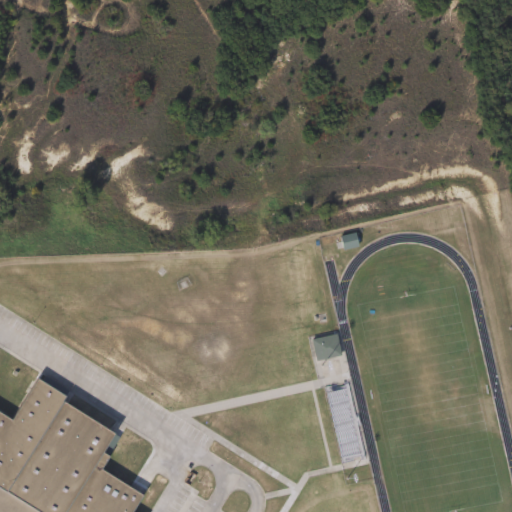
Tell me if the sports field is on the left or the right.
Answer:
right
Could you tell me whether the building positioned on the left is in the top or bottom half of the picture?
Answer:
bottom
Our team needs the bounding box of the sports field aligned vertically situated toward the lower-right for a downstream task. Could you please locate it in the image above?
[357,284,502,512]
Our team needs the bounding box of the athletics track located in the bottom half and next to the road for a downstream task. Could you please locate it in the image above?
[320,232,512,512]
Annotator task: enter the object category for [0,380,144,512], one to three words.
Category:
building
